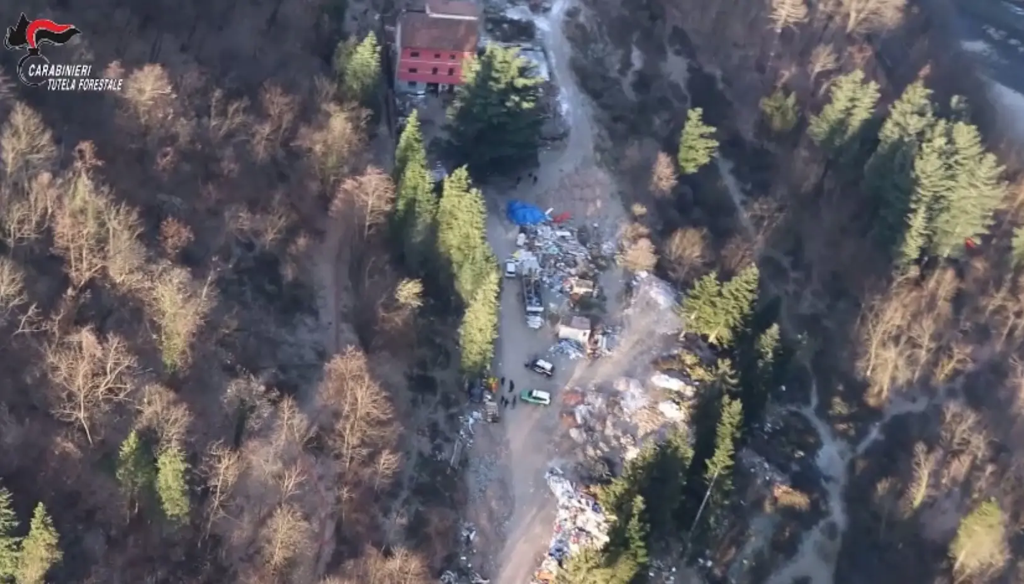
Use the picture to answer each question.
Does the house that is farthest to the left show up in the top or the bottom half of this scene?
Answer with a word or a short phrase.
top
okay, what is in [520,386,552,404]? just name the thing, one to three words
car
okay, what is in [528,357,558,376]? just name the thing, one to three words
car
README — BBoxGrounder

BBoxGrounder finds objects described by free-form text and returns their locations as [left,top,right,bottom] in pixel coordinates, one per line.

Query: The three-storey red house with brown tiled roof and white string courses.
[398,0,489,99]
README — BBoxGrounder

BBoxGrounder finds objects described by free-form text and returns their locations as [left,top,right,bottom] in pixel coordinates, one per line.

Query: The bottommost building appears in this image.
[559,310,594,343]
